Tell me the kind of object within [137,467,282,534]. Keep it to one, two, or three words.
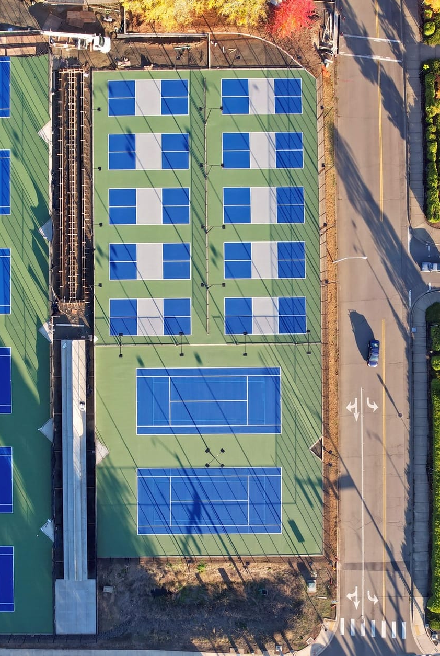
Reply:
tennis court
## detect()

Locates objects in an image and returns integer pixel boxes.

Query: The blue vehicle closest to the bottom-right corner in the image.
[364,338,380,368]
